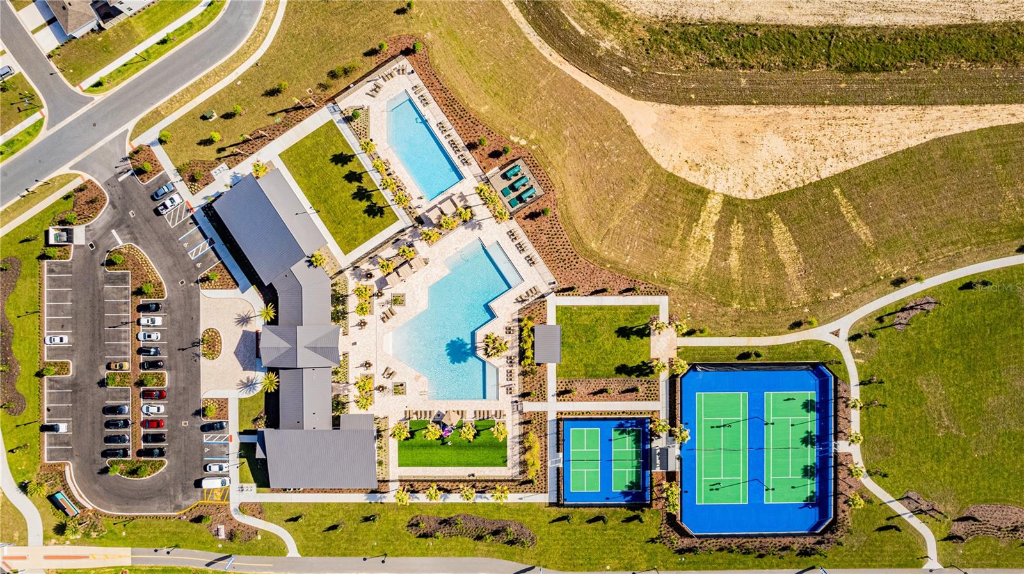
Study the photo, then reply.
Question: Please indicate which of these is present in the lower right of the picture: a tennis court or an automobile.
tennis court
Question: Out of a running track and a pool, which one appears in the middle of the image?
pool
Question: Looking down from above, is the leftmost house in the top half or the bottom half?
top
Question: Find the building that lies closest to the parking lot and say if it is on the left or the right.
left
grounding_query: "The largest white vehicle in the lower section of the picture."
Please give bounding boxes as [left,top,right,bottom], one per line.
[200,475,231,489]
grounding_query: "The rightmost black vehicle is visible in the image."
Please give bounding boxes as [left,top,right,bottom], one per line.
[202,420,227,432]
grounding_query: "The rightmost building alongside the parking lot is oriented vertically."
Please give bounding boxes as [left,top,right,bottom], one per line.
[212,168,378,489]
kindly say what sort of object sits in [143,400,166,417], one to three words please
car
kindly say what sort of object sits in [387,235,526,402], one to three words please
swimming pool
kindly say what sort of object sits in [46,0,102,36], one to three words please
house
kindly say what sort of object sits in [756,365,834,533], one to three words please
tennis court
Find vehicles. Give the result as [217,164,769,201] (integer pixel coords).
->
[139,346,163,357]
[106,434,130,444]
[153,182,176,200]
[142,389,166,400]
[143,400,166,417]
[157,195,183,215]
[138,302,162,313]
[207,462,230,473]
[143,433,167,444]
[202,420,227,432]
[138,331,161,341]
[109,361,132,371]
[140,316,164,327]
[106,419,130,430]
[104,448,131,459]
[200,475,231,489]
[0,64,16,80]
[141,359,165,370]
[142,419,165,429]
[46,335,69,345]
[142,446,167,458]
[45,423,69,433]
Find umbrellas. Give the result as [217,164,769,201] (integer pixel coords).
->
[443,408,461,426]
